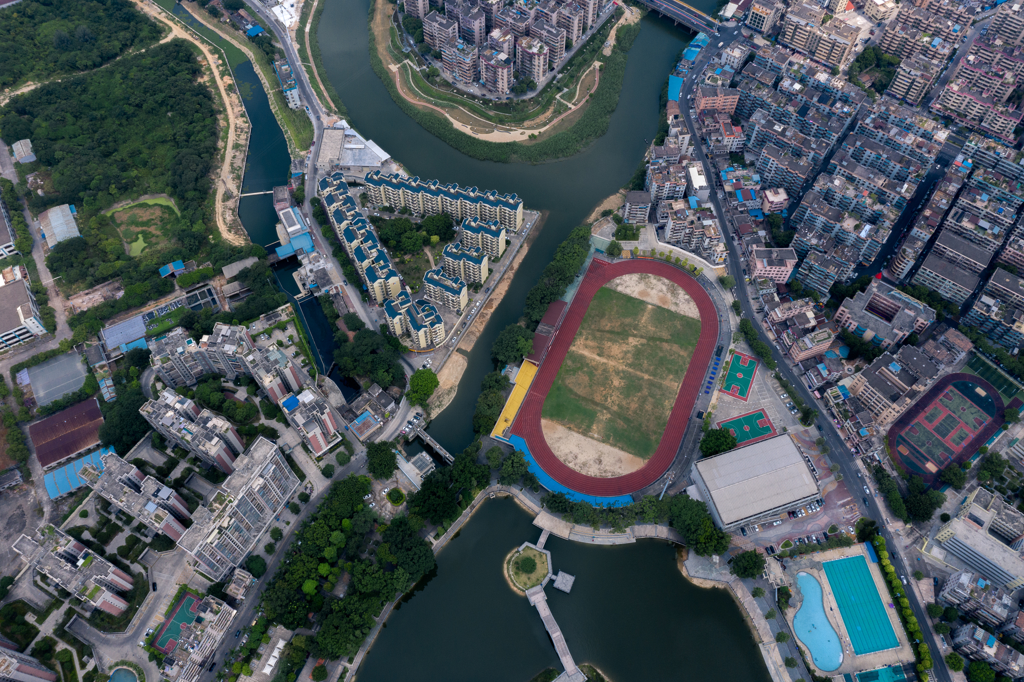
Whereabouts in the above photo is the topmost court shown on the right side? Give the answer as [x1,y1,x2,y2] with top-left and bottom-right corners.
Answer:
[718,350,761,401]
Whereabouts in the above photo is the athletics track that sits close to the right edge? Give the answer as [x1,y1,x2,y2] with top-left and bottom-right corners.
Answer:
[886,372,1023,481]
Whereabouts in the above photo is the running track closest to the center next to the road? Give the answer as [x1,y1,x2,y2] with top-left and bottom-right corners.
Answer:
[506,253,719,497]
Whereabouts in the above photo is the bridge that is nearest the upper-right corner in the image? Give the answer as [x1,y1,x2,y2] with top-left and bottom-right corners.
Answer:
[632,0,731,43]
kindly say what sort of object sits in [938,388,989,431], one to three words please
basketball court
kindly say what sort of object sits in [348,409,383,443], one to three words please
building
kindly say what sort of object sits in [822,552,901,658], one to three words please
swimming pool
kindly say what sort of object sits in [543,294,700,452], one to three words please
sports field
